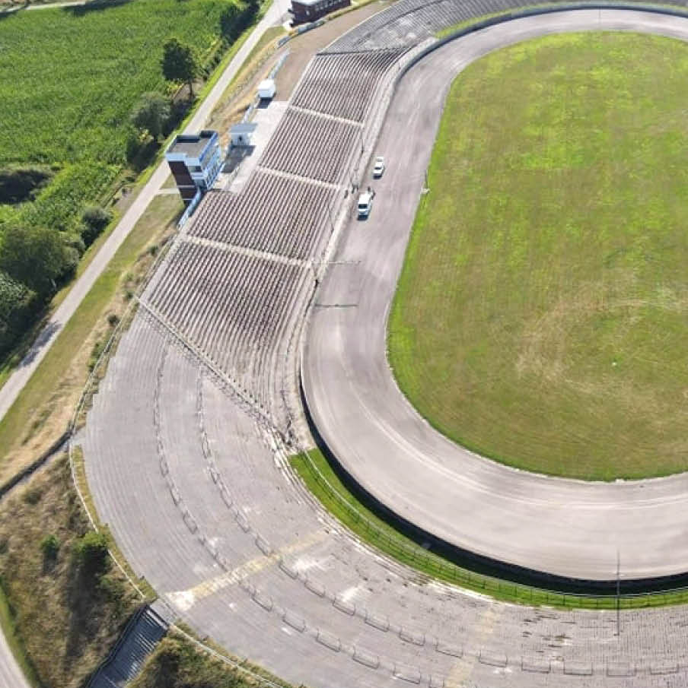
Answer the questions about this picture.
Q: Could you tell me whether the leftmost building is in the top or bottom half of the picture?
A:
top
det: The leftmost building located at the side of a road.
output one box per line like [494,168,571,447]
[163,126,233,198]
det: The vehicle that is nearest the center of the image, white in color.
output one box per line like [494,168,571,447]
[355,196,371,217]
